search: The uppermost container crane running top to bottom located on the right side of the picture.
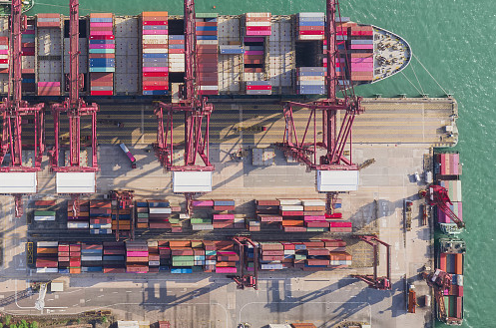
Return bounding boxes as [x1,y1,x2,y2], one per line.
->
[278,0,367,210]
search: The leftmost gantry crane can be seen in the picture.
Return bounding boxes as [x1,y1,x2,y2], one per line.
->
[0,0,52,211]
